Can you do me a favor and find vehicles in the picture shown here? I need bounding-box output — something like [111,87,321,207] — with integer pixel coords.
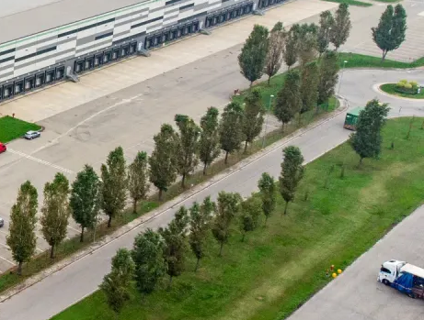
[24,128,43,139]
[0,141,9,153]
[344,107,361,127]
[0,216,7,227]
[376,266,424,296]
